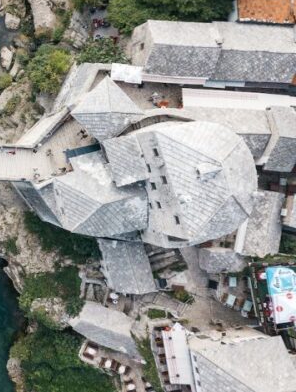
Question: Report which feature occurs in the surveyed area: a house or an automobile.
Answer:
house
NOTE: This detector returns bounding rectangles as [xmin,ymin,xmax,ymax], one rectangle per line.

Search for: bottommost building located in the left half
[59,299,145,362]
